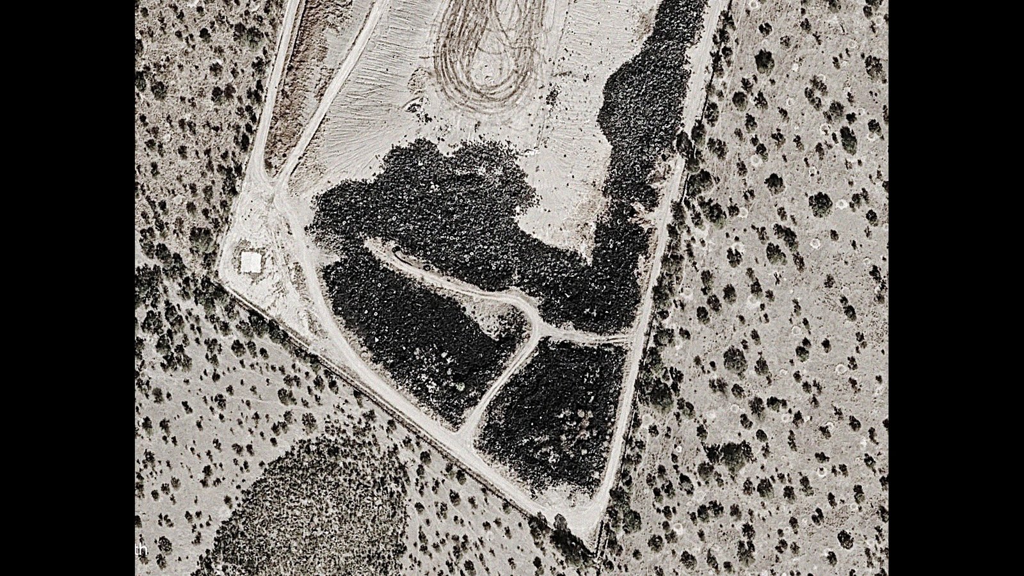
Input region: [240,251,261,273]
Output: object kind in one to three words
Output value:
shed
